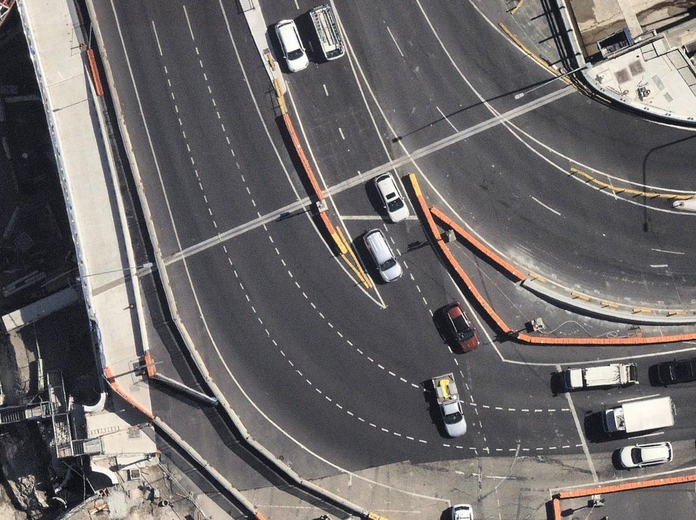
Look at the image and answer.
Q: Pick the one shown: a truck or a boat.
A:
truck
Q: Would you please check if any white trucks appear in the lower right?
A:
Yes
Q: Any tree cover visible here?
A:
No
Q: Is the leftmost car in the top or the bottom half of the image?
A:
top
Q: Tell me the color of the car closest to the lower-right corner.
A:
white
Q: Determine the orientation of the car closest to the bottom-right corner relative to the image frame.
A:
from left to right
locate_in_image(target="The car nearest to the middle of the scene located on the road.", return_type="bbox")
[366,226,402,285]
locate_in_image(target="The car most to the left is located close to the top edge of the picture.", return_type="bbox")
[275,17,309,74]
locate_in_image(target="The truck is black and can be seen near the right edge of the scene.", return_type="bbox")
[656,362,696,387]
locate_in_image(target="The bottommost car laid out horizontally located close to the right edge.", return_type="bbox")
[620,444,675,471]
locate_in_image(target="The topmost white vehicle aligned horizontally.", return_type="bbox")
[562,362,640,394]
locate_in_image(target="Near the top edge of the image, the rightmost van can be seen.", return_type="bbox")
[309,2,349,63]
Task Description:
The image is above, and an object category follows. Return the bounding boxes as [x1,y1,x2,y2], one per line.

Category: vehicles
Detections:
[366,226,402,285]
[452,504,475,520]
[375,171,409,225]
[275,17,309,74]
[436,372,468,439]
[602,399,679,436]
[445,300,482,355]
[309,2,349,63]
[656,362,696,387]
[620,444,675,471]
[562,362,640,394]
